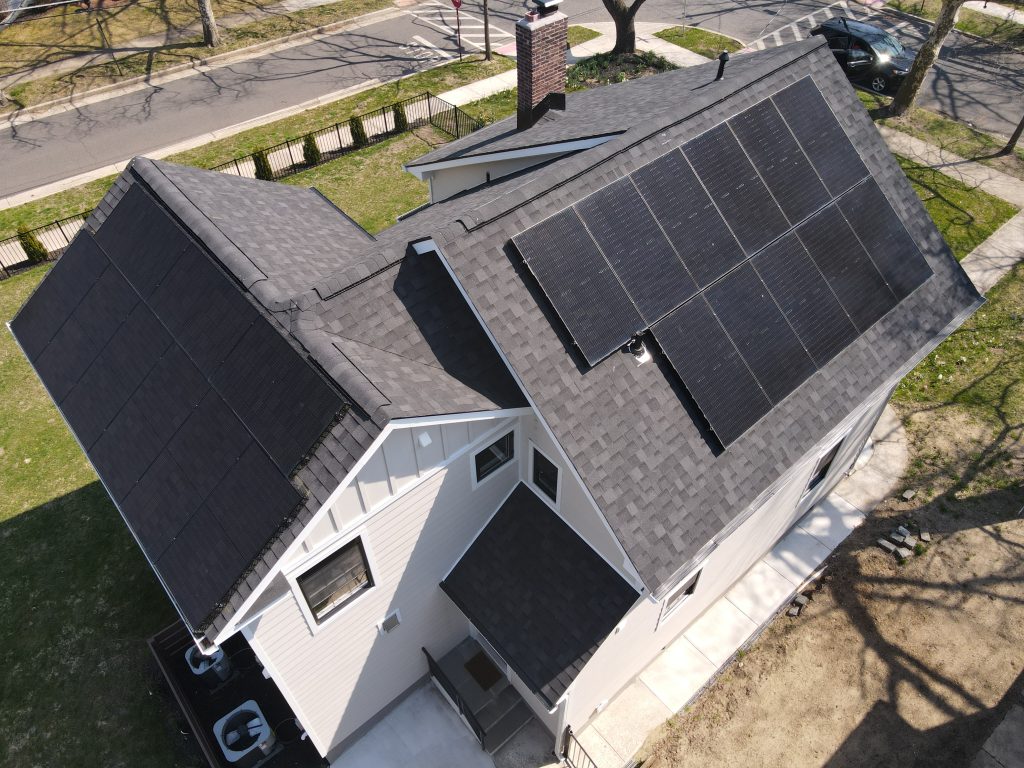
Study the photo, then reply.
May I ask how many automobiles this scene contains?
one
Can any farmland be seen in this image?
No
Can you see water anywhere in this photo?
No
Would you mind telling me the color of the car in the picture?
black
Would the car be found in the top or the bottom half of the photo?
top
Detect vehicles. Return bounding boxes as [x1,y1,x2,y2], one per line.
[816,16,920,96]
